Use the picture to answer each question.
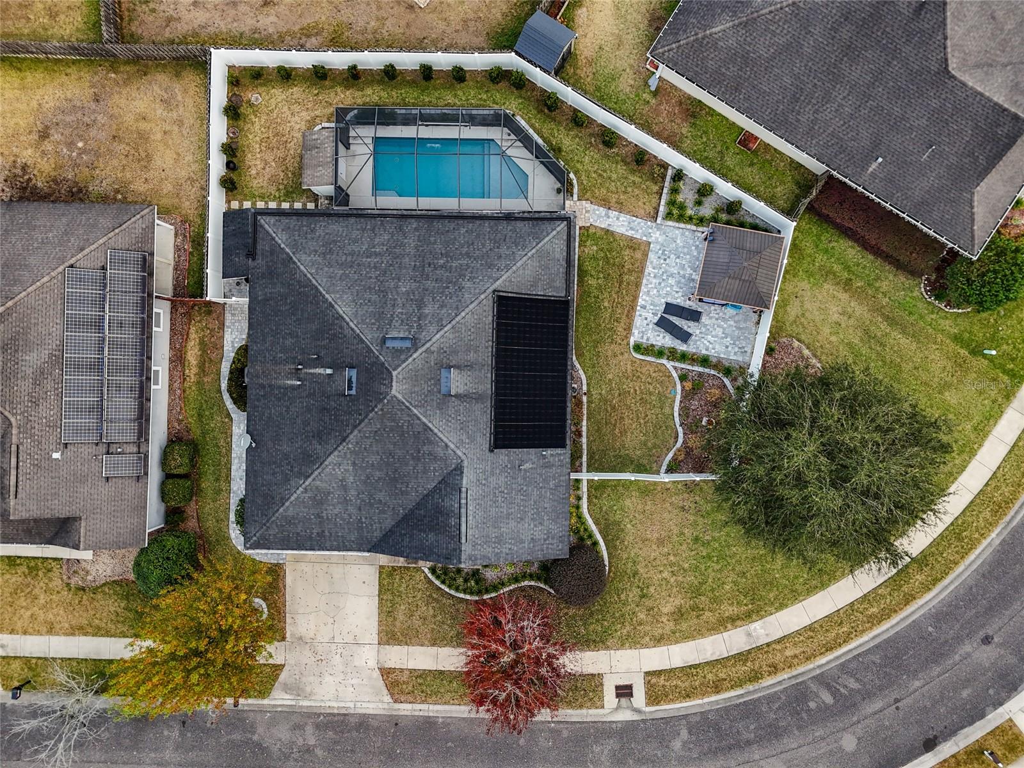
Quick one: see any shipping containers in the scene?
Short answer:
No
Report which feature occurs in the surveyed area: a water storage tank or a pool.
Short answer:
pool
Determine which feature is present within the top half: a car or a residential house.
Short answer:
residential house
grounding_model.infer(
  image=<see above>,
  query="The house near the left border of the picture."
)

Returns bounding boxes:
[0,202,176,549]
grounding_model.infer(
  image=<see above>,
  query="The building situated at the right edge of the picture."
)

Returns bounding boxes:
[647,0,1024,260]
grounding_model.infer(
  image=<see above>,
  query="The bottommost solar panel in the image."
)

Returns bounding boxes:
[103,454,143,476]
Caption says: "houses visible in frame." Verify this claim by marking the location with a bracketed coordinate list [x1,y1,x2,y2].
[647,0,1024,260]
[0,202,176,549]
[221,209,575,565]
